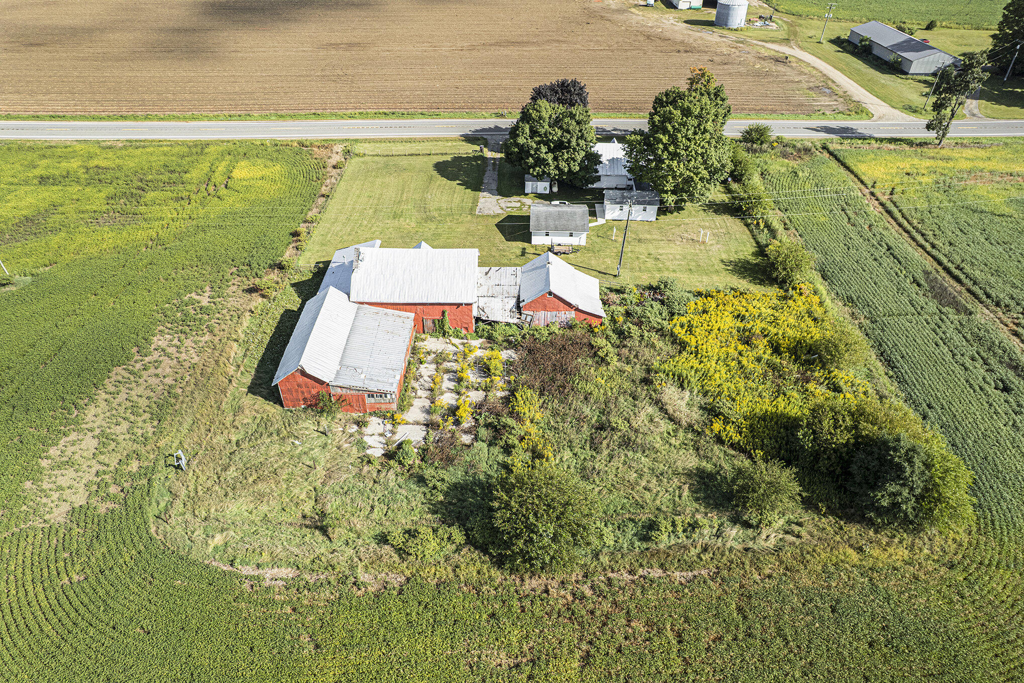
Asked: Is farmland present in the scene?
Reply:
Yes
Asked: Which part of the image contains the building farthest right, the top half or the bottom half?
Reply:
top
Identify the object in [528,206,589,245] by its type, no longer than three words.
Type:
building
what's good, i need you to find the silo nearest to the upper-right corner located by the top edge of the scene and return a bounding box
[713,0,749,28]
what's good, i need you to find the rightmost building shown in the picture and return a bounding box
[849,18,963,75]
